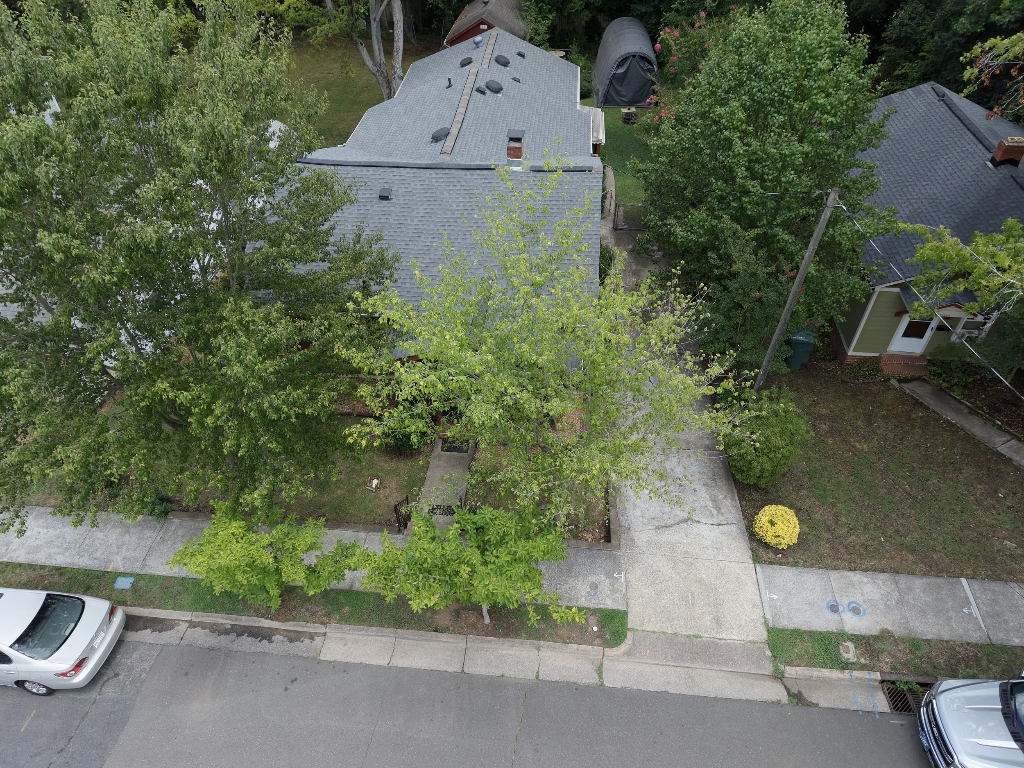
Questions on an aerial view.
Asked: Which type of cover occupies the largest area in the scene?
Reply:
trees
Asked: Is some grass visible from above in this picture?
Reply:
Yes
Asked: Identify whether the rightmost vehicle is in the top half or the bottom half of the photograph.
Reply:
bottom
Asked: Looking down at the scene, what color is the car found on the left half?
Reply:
white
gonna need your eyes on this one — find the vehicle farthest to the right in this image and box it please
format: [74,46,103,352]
[913,670,1024,768]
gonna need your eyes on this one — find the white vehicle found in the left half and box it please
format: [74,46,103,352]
[0,587,128,701]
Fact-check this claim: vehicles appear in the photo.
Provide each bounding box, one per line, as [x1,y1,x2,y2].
[0,587,128,701]
[913,670,1024,768]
